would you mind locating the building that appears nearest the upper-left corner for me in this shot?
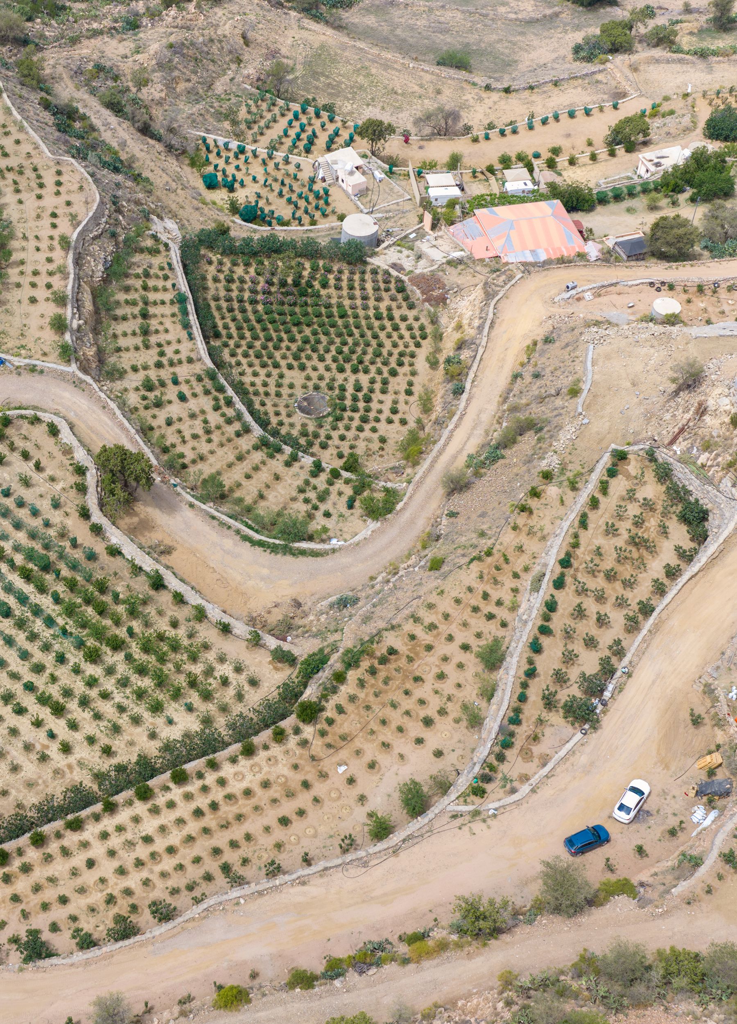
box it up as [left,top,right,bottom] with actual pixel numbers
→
[318,146,367,196]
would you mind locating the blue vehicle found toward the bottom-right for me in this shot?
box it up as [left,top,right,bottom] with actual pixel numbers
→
[564,824,611,855]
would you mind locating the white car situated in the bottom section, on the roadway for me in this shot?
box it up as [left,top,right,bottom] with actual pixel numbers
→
[615,779,651,824]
